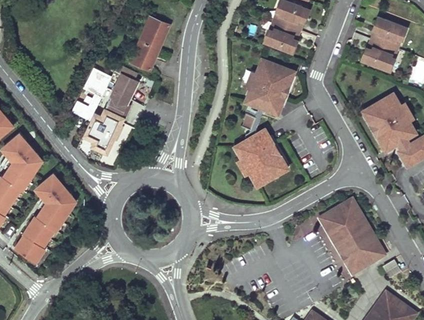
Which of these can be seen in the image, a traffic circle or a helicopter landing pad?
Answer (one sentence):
There is a traffic circle in the scene.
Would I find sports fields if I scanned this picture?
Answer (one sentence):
No, I can see no sports field in this picture.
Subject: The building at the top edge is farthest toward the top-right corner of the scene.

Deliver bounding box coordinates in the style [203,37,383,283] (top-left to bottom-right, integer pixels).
[368,14,410,54]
